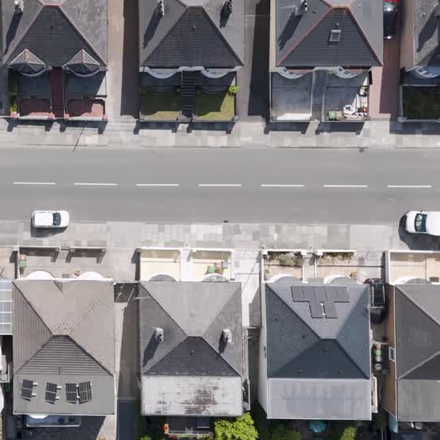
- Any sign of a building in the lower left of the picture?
Yes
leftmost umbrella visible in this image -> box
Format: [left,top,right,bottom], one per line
[310,420,327,434]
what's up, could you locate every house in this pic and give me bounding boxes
[260,272,372,421]
[401,0,440,79]
[138,0,245,79]
[138,270,244,435]
[381,272,440,422]
[12,268,115,427]
[271,0,384,79]
[2,0,107,78]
